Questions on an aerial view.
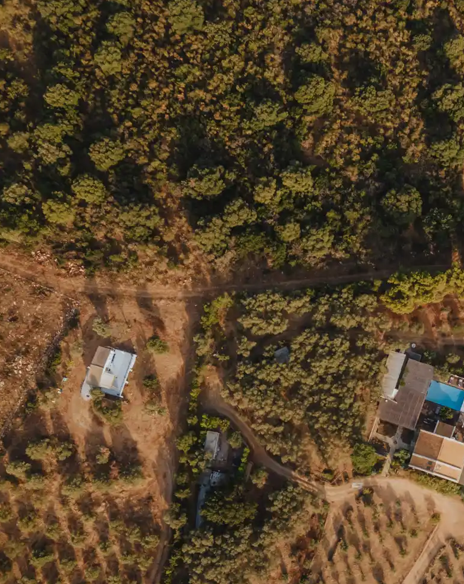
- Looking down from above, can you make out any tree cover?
Yes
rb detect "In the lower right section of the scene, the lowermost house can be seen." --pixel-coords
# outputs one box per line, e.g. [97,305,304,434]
[409,419,464,481]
